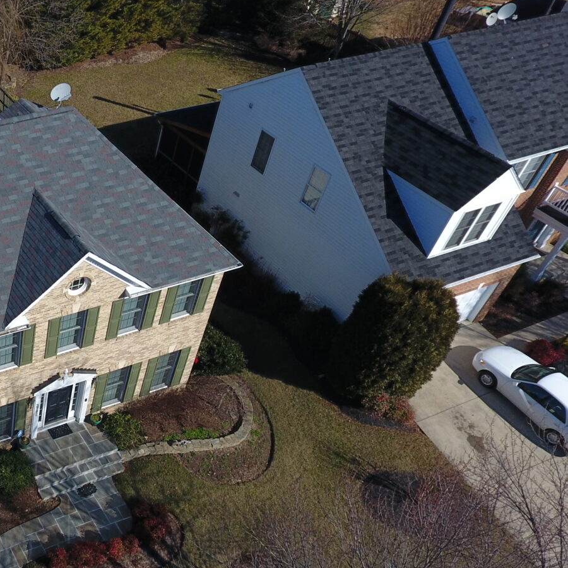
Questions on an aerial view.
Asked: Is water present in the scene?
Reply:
No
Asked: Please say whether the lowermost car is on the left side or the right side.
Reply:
right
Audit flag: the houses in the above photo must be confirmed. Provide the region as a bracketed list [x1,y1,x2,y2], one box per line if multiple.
[145,0,568,349]
[0,88,245,450]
